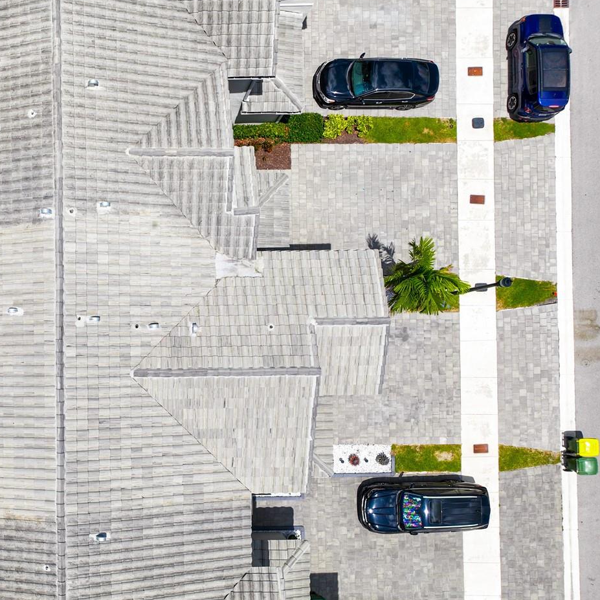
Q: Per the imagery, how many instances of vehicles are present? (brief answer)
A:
3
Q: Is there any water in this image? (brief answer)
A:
No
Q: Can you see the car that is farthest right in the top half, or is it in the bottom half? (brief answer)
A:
top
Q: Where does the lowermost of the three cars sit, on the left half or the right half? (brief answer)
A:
right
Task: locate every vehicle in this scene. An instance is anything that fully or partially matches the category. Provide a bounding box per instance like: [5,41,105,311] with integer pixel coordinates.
[313,59,438,116]
[505,13,572,122]
[357,476,490,533]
